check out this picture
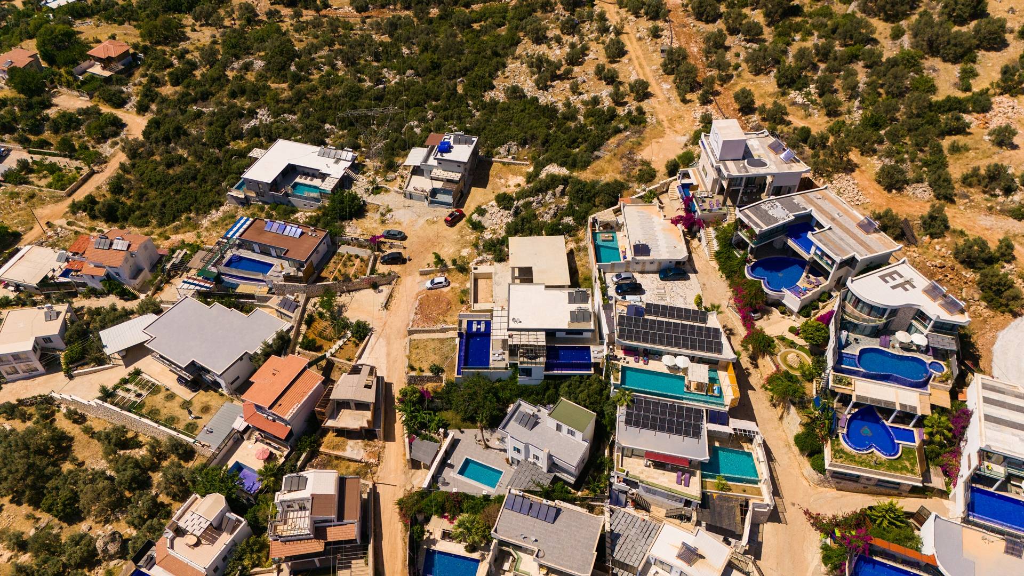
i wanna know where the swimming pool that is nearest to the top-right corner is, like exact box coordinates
[789,224,819,254]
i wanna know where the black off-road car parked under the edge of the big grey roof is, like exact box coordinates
[175,378,203,395]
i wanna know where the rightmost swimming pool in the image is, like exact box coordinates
[967,485,1024,529]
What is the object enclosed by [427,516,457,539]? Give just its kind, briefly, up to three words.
gazebo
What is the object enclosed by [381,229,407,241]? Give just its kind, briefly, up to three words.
vehicle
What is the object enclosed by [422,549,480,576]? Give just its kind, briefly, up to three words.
swimming pool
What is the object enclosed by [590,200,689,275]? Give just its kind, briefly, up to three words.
house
